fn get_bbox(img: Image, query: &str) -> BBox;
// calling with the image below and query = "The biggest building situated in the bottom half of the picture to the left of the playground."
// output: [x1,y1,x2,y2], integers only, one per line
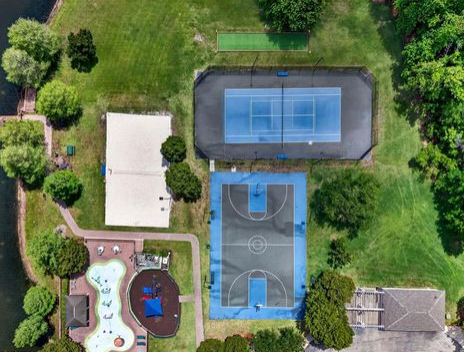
[66,292,91,326]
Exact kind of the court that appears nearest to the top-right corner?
tennis court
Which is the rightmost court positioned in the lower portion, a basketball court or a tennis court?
basketball court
